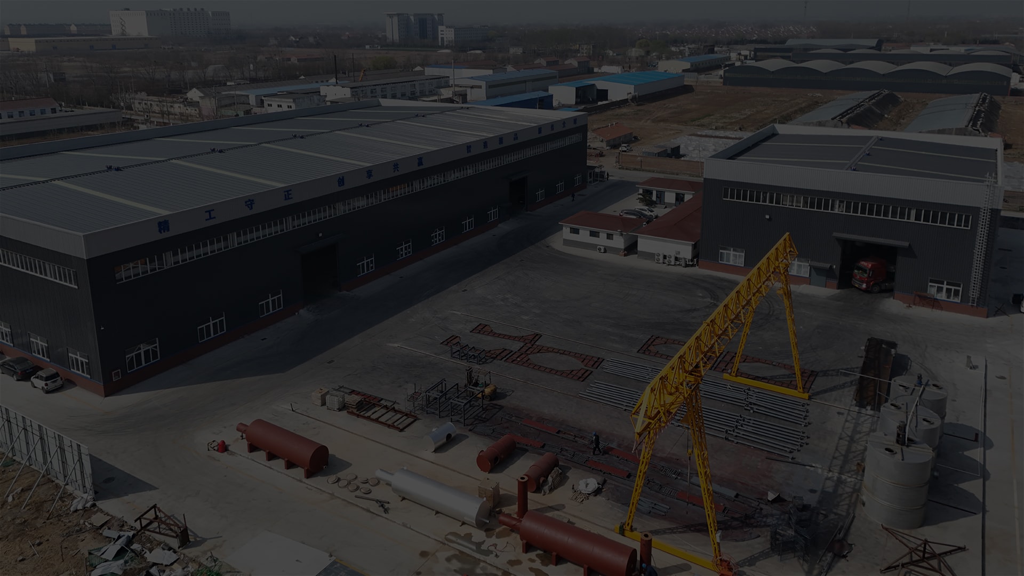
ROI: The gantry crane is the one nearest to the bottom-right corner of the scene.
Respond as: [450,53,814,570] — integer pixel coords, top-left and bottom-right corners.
[616,224,813,576]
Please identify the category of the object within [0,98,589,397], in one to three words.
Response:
building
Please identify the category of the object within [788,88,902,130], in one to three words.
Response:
greenhouse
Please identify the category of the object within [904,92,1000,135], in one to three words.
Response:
greenhouse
